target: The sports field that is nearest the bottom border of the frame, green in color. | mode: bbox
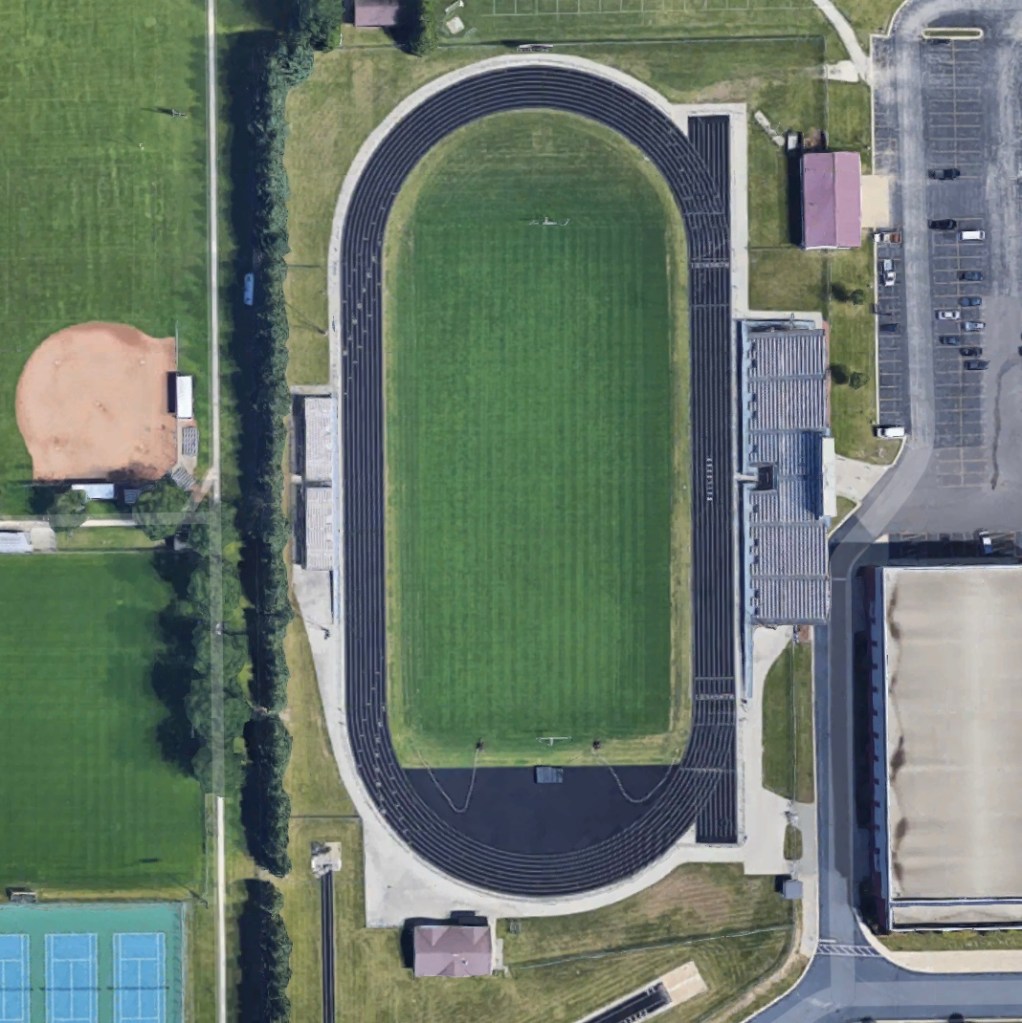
[0,553,205,890]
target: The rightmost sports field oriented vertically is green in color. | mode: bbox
[382,110,692,767]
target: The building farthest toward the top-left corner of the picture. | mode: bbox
[354,0,399,29]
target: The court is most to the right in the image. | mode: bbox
[105,903,186,1023]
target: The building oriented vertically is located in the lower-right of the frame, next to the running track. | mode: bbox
[865,563,1022,932]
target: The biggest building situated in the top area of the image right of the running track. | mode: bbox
[802,151,861,248]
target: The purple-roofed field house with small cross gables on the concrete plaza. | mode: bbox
[414,913,493,979]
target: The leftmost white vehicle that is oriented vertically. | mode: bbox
[882,259,895,287]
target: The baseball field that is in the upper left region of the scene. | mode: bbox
[0,0,211,517]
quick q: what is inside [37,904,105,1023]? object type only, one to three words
tennis court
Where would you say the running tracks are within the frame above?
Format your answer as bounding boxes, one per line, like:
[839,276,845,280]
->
[340,68,737,895]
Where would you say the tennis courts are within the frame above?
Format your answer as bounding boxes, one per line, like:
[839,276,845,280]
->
[0,904,37,1023]
[37,904,105,1023]
[105,903,186,1023]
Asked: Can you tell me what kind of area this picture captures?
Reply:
sports ground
